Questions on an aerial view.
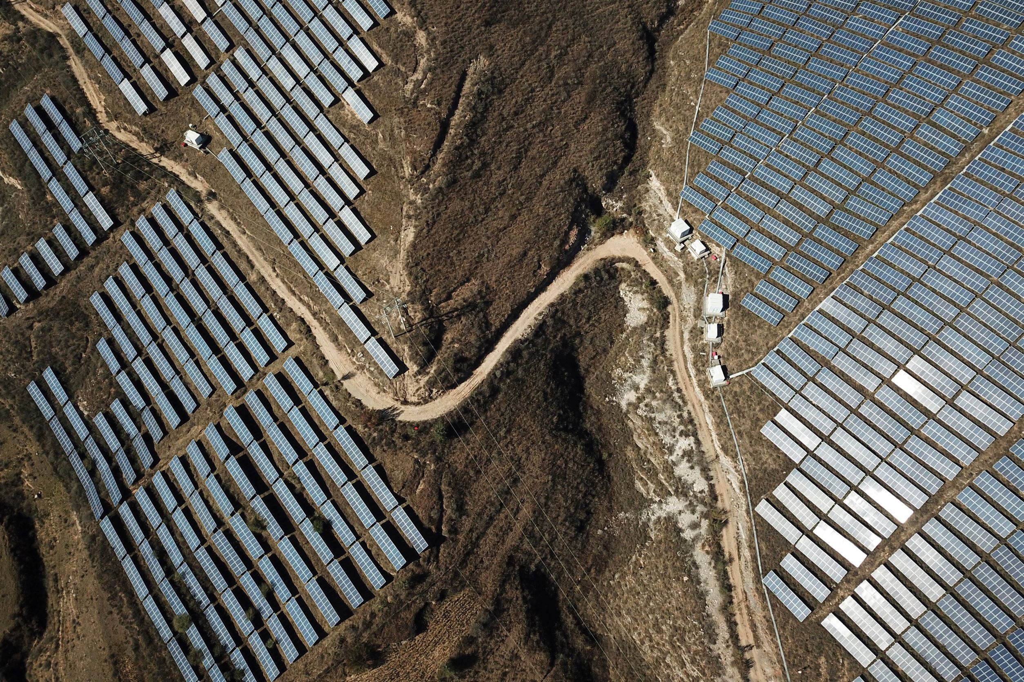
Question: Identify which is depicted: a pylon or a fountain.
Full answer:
It is a pylon that can be seen here.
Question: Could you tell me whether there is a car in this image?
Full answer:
No, I find no car anywhere in the image.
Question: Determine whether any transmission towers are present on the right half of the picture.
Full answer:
No, there's no transmission tower to be seen on the right half of the picture.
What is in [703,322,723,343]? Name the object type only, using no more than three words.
building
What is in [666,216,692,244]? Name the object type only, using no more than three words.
building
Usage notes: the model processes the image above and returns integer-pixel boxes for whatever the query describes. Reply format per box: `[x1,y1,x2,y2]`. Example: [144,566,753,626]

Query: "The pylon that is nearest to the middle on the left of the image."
[378,298,406,338]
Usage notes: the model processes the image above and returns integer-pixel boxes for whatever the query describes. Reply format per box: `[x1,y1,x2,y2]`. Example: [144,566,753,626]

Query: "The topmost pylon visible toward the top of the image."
[78,128,117,172]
